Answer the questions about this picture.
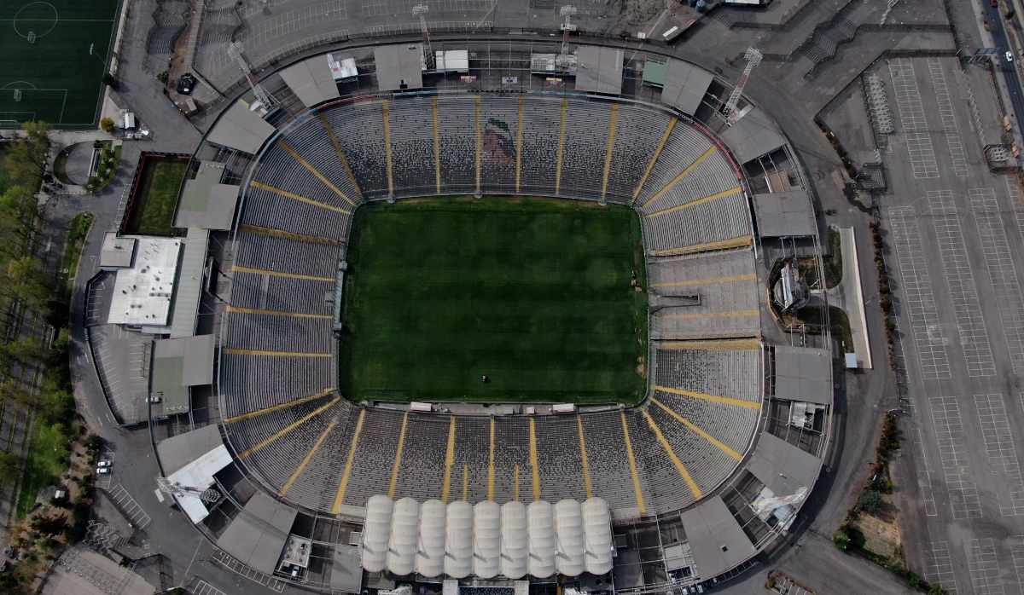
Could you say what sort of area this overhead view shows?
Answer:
sports ground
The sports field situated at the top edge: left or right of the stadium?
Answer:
left of it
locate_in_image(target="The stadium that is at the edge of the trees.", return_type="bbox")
[148,38,834,595]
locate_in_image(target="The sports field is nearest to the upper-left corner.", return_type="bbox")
[0,0,124,128]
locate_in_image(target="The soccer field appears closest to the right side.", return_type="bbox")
[335,198,650,416]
